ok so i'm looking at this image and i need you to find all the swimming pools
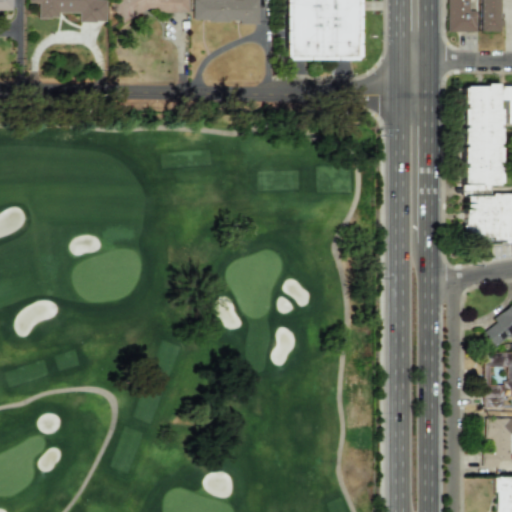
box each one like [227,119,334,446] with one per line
[492,366,508,386]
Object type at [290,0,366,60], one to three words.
building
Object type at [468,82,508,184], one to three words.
building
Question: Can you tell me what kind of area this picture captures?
golf course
